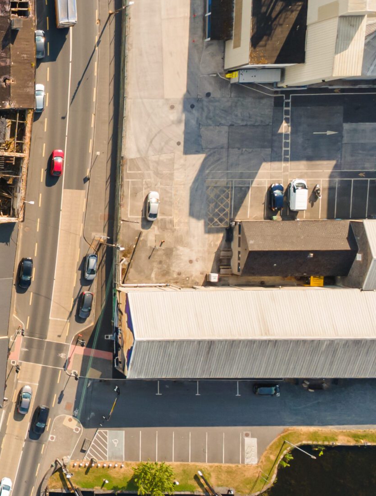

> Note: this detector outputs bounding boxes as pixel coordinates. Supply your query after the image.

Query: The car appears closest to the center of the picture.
[144,191,159,221]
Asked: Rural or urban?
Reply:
urban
